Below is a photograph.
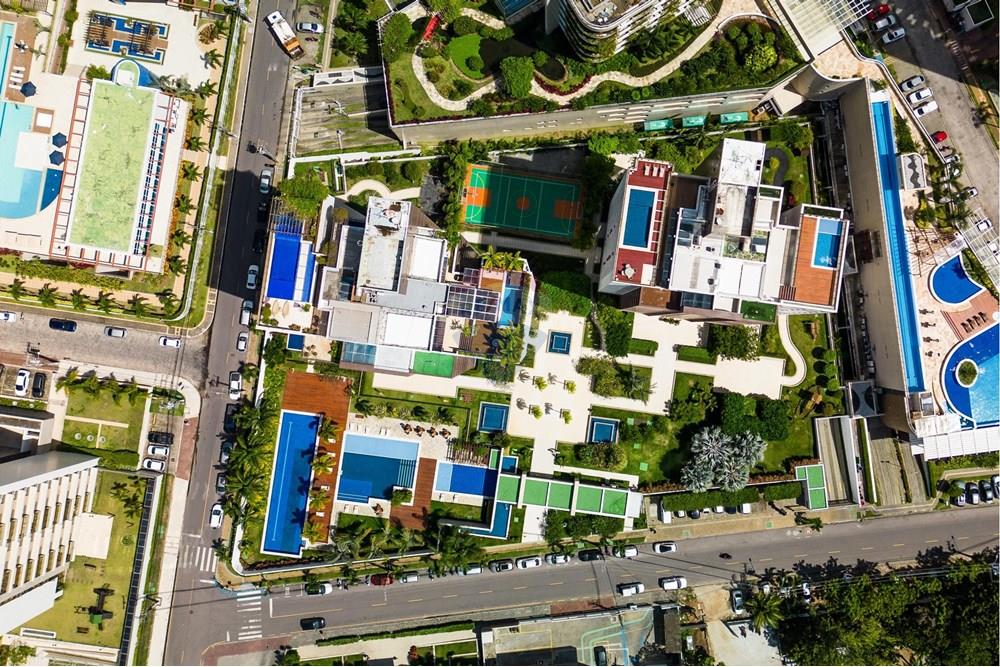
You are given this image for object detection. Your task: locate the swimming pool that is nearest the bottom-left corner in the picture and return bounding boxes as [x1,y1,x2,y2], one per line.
[261,408,321,558]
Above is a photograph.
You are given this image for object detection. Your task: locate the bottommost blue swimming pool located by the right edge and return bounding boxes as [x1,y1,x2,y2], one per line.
[941,322,1000,429]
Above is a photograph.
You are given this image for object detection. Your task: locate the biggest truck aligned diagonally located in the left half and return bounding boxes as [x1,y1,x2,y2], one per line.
[264,10,307,63]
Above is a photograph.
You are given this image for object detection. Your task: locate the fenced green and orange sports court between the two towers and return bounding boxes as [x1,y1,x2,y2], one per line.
[455,153,591,242]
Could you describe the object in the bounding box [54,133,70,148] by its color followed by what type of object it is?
blue umbrella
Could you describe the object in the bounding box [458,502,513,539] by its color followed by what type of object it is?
blue swimming pool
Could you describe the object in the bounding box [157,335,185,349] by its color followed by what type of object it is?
white vehicle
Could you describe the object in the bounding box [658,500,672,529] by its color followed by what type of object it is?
white vehicle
